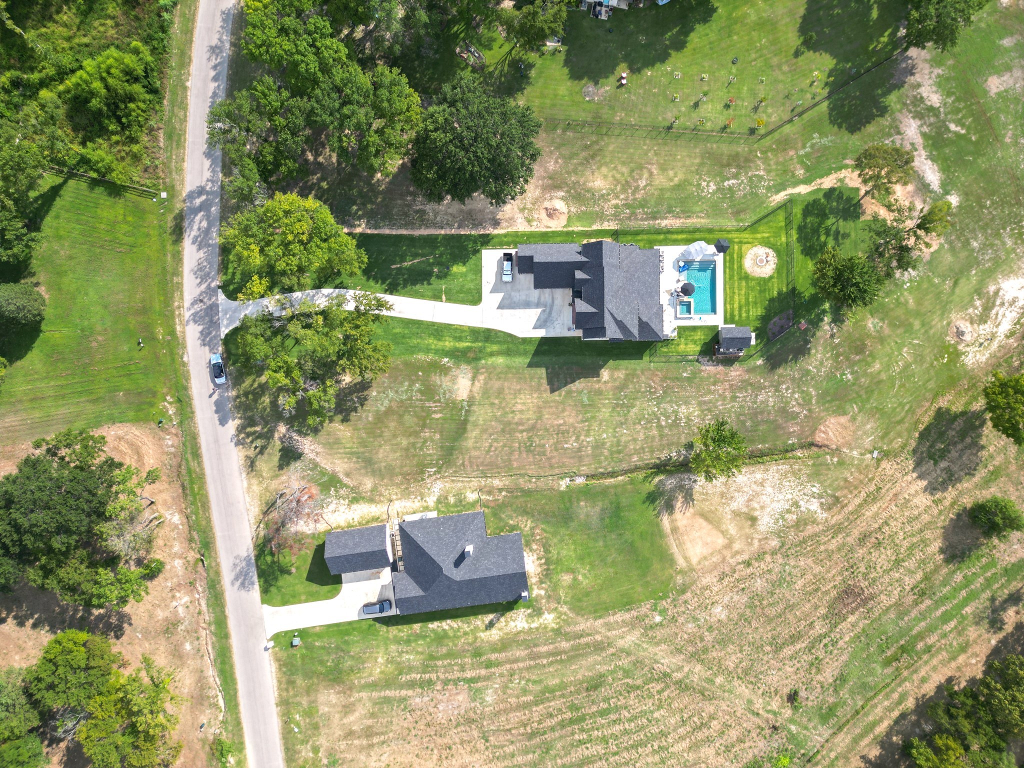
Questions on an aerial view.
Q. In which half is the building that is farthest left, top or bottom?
bottom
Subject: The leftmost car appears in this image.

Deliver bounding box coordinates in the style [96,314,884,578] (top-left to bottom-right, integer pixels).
[207,353,226,385]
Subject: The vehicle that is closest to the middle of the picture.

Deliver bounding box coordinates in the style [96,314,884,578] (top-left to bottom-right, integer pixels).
[500,252,514,282]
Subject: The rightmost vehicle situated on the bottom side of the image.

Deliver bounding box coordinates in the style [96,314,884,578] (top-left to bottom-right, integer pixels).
[362,602,389,616]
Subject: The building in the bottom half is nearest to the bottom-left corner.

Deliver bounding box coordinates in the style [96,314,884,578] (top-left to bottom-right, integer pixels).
[325,523,392,575]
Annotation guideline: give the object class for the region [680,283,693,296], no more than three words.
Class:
umbrella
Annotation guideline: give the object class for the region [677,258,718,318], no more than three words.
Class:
swimming pool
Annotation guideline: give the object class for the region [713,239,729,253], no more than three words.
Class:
umbrella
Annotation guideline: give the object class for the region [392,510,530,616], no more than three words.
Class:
house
